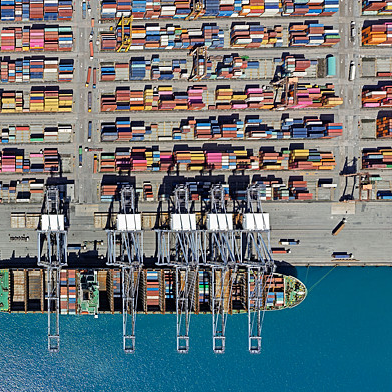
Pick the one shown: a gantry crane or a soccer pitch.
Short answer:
gantry crane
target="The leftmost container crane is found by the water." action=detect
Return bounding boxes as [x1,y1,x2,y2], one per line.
[31,186,69,353]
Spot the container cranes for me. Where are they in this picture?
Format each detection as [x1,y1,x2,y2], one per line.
[217,186,285,353]
[31,186,69,353]
[272,75,298,112]
[186,45,208,84]
[184,186,245,353]
[342,174,372,203]
[99,186,148,353]
[115,15,133,54]
[148,186,206,353]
